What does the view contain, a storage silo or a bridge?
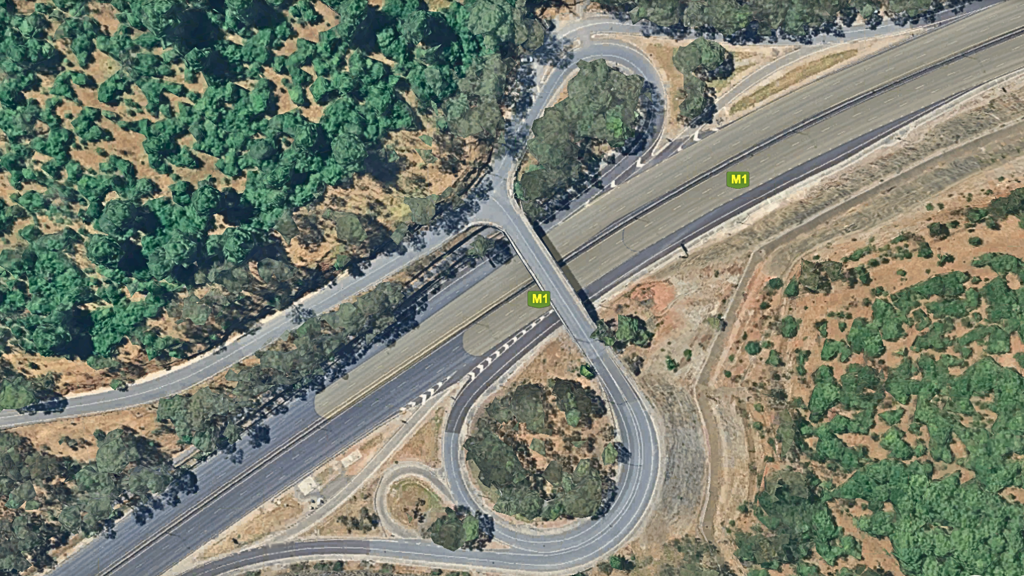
bridge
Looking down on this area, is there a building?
No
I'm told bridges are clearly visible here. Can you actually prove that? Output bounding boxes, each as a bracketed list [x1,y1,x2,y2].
[502,212,606,349]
